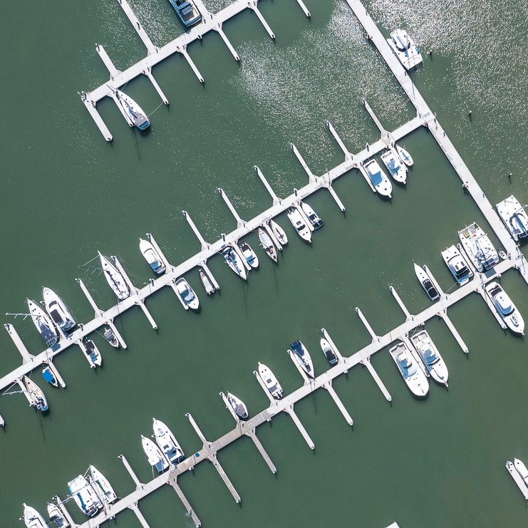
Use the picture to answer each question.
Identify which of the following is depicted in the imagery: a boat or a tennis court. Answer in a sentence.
I can see a boat in this picture.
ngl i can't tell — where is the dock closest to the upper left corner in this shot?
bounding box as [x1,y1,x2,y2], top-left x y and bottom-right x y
[81,0,311,141]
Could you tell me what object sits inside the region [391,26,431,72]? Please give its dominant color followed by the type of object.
white boat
